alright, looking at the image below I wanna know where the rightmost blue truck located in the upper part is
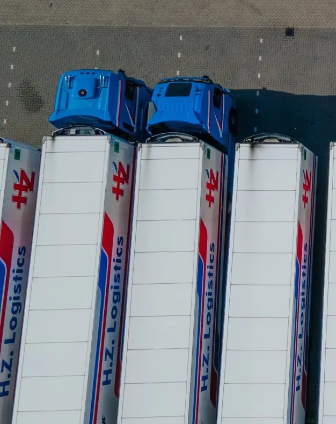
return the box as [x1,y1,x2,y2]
[146,75,235,219]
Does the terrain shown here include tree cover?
No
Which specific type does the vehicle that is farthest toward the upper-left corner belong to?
truck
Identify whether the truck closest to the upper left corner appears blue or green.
blue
